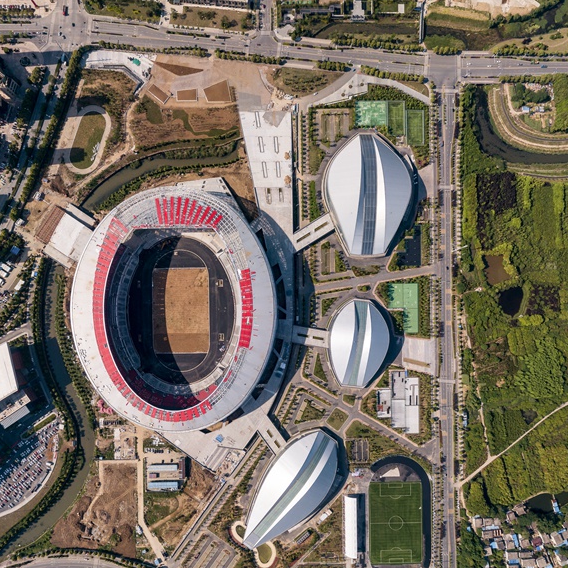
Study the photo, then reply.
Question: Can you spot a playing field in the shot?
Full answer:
Yes, the photo shows a playing field.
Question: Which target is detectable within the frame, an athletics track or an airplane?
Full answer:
It is an athletics track that can be seen here.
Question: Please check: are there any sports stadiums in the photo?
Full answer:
Yes, the image includes a sports stadium.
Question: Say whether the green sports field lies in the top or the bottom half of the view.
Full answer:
You can find the green sports field in the bottom half.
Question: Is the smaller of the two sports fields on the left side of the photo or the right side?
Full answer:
The smaller of the two sports fields sits on the left side.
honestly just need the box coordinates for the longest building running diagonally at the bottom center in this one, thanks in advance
[240,426,338,548]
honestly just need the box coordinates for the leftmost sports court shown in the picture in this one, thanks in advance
[355,99,388,127]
